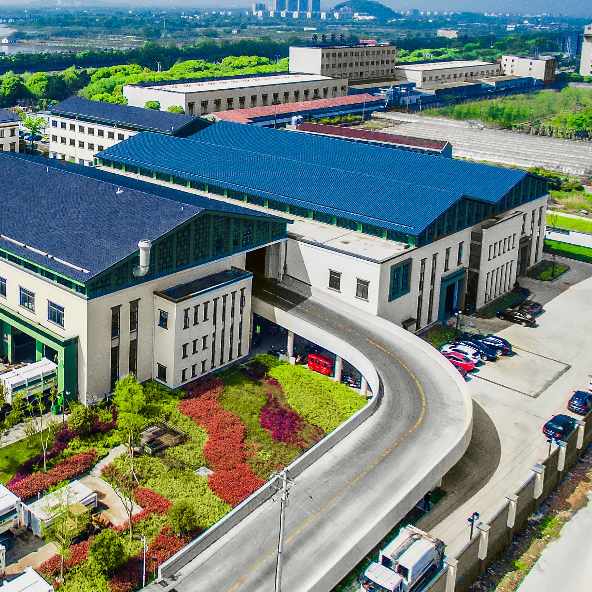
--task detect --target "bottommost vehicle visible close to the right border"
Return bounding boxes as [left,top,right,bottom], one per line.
[544,408,578,438]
